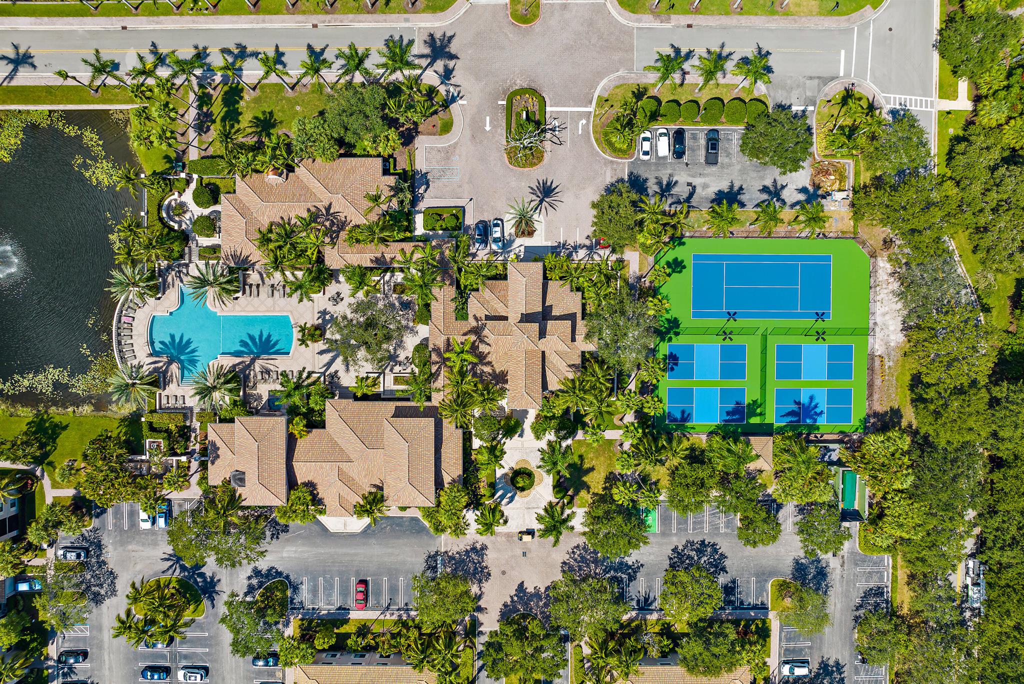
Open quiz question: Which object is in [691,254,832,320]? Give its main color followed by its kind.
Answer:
blue tennis court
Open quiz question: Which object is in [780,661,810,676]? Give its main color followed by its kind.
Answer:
white car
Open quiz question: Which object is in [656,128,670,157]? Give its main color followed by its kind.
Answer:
white car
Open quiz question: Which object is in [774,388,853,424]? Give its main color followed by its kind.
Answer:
blue sports court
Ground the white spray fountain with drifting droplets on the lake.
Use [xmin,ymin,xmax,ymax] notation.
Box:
[0,224,33,286]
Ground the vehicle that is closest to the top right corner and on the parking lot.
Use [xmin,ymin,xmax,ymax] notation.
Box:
[704,130,719,165]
